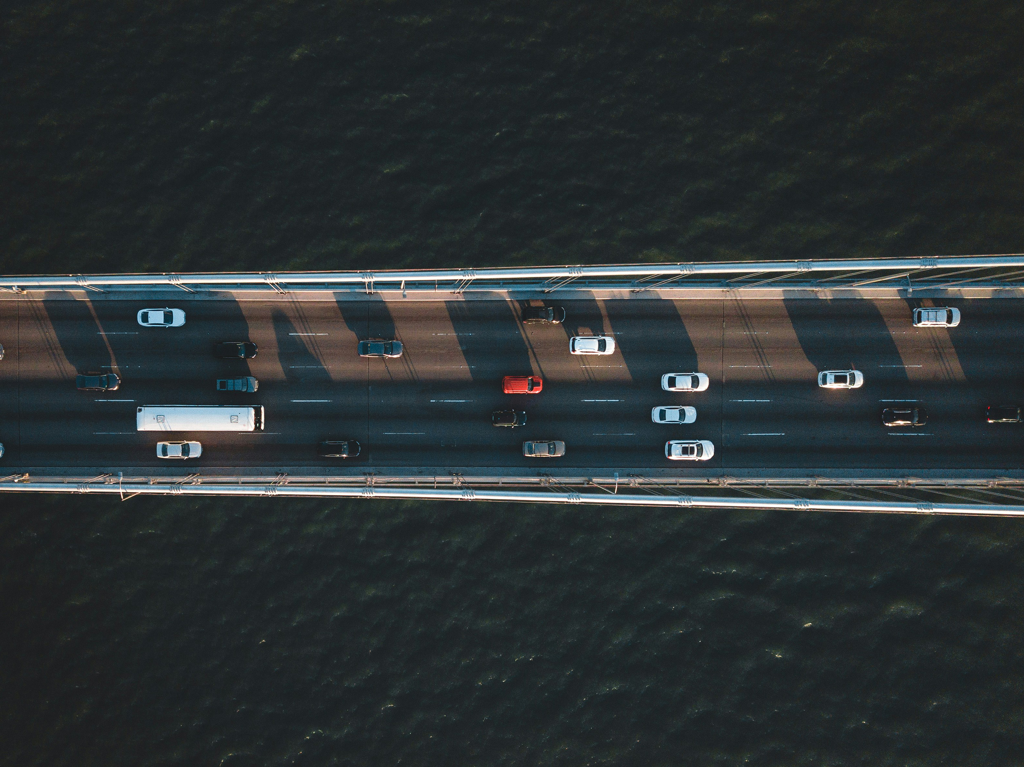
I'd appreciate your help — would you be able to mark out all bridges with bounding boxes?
[0,254,1024,518]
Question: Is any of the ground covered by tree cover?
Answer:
No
